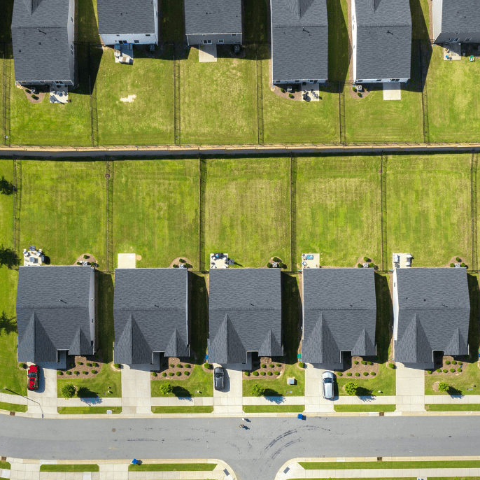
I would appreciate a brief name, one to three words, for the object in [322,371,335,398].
vehicle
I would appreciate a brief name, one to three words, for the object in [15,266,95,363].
house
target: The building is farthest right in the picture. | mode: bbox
[434,0,480,44]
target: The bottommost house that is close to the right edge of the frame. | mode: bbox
[393,266,470,364]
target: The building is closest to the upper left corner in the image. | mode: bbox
[10,0,72,85]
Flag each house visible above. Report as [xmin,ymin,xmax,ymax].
[113,268,189,364]
[208,268,282,364]
[272,0,330,84]
[15,266,95,363]
[434,0,480,44]
[393,266,470,364]
[301,268,376,364]
[10,0,72,85]
[96,0,156,45]
[185,0,241,44]
[355,0,413,84]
